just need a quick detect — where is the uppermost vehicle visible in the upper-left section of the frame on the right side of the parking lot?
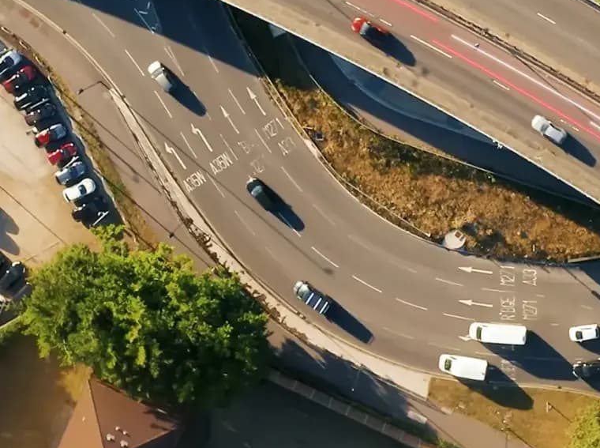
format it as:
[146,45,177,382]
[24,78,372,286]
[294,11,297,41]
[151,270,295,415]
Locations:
[144,59,175,95]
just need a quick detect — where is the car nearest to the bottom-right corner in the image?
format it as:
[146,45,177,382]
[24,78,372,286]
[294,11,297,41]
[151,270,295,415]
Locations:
[573,359,600,378]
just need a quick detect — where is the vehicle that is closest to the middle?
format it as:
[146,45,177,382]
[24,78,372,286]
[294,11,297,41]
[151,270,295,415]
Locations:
[243,178,273,212]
